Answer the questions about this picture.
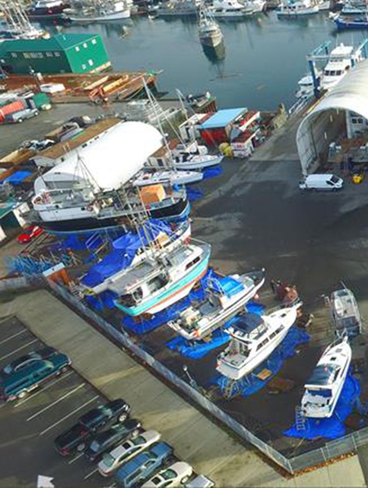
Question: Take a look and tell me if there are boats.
Yes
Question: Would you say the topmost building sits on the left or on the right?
left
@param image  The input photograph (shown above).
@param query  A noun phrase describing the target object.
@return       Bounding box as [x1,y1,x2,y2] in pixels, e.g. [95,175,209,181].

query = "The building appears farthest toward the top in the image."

[0,28,113,73]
